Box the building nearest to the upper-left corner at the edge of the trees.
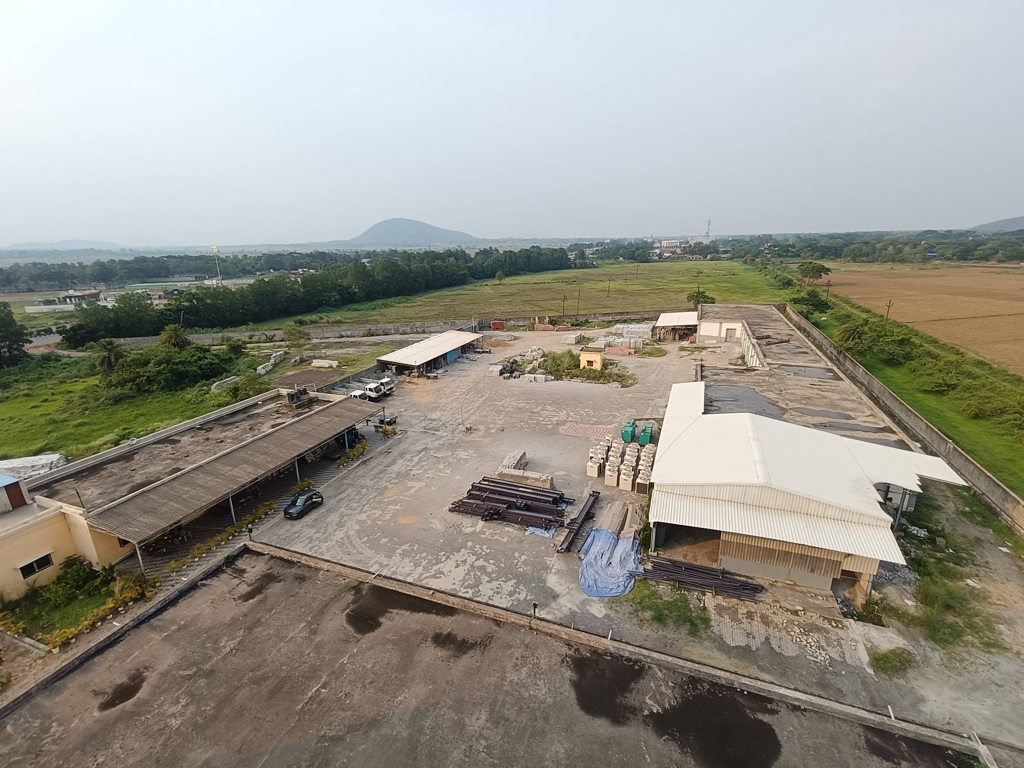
[50,288,104,304]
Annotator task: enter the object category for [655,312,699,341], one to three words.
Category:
shed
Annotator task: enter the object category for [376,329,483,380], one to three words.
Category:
shed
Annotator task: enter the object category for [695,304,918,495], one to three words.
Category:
building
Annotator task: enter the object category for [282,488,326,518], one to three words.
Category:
car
